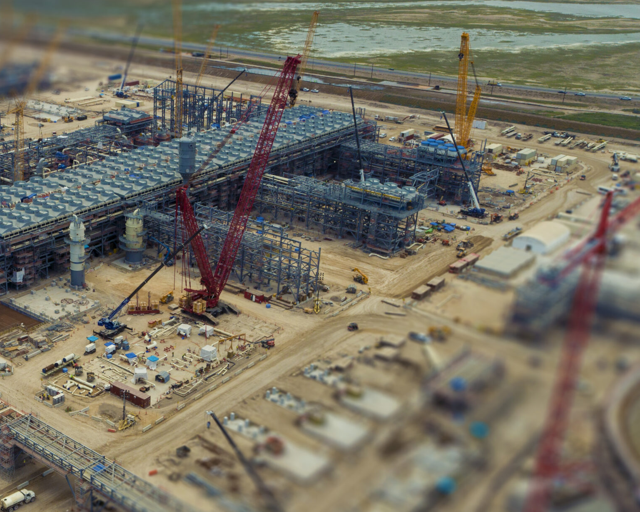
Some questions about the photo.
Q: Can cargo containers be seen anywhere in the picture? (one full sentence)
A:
Yes, you can see a cargo container in this photo.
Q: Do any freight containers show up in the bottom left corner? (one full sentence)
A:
Yes, looking in the bottom left corner, one can make out a freight container.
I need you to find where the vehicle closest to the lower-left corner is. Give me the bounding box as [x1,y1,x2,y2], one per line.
[0,486,40,512]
